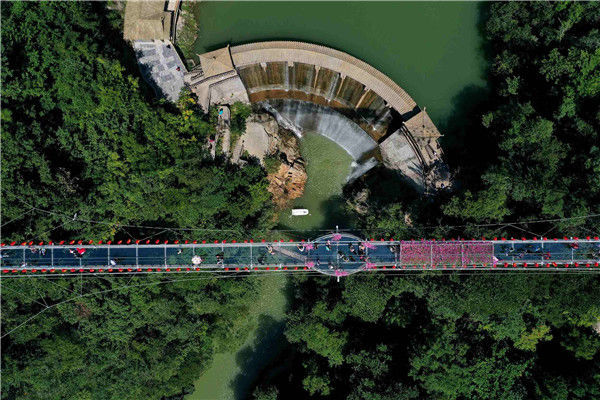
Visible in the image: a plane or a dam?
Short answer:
dam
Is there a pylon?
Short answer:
No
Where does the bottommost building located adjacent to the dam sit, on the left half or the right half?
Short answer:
right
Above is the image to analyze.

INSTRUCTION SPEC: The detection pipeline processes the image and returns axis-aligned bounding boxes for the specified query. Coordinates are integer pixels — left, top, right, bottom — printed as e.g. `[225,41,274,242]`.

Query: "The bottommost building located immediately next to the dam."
[401,106,447,151]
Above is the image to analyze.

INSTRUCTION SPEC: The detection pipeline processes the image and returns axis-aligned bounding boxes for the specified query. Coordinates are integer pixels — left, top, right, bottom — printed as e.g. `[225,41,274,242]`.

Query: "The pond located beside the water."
[189,0,490,152]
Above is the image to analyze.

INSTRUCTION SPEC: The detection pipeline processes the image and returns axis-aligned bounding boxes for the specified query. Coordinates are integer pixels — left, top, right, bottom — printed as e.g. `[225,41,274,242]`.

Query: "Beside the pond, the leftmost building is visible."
[121,0,173,40]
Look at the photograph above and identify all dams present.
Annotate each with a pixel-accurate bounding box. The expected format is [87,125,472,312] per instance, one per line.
[235,61,402,161]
